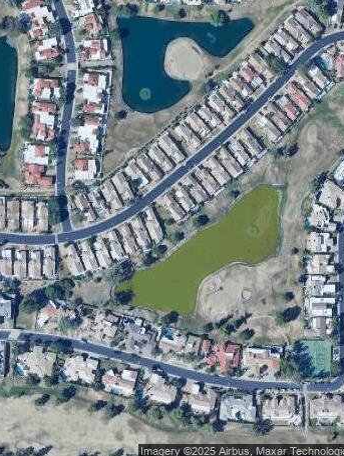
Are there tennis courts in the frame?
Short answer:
Yes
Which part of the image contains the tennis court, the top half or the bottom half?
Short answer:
bottom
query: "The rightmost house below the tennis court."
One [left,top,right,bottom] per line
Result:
[312,394,344,425]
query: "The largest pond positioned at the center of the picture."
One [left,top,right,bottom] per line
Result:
[115,184,282,314]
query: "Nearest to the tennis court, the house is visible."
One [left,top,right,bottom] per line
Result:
[306,318,333,336]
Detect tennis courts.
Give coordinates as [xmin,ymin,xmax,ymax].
[301,339,331,376]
